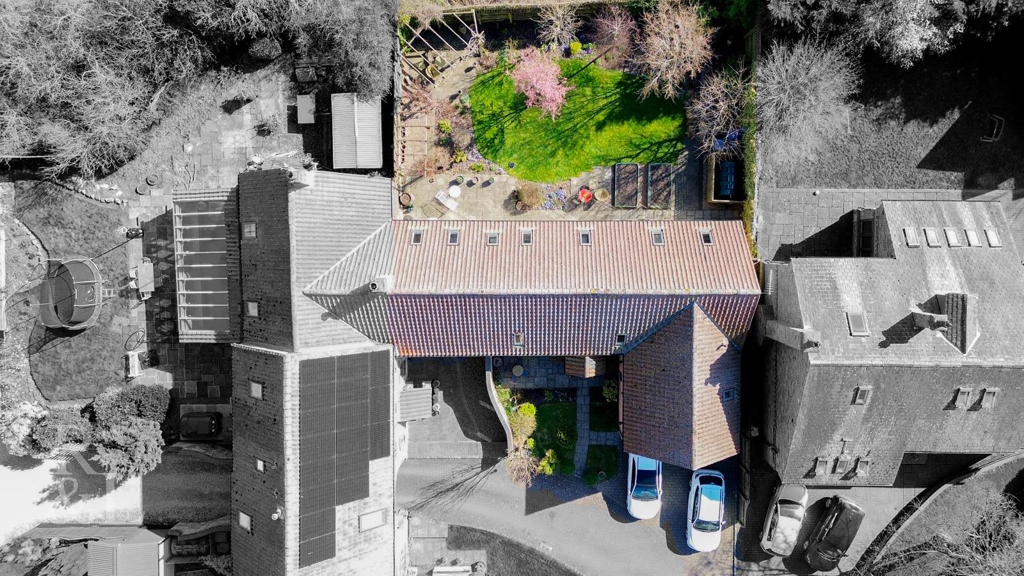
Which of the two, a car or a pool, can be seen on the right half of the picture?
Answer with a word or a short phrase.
car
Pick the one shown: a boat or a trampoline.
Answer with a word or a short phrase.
trampoline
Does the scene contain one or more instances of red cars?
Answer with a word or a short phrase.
No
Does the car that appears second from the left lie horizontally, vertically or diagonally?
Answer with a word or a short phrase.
vertically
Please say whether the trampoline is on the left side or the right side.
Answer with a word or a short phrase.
left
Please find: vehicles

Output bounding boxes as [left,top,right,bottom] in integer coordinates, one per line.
[804,491,865,571]
[685,468,726,550]
[759,482,809,560]
[626,452,666,518]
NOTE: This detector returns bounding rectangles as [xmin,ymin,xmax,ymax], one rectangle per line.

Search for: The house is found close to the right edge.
[747,200,1024,486]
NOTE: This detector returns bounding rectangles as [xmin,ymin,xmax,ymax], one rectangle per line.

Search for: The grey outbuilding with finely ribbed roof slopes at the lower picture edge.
[88,525,185,576]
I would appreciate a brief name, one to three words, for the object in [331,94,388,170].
shed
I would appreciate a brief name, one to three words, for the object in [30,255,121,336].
trampoline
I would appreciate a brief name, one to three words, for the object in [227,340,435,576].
house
